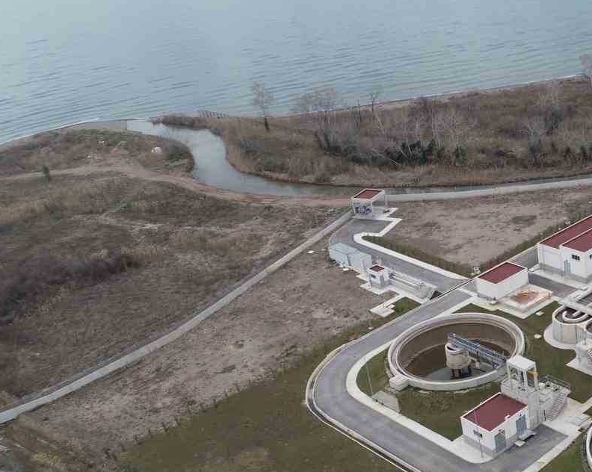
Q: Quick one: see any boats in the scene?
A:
No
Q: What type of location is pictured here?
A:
industrial area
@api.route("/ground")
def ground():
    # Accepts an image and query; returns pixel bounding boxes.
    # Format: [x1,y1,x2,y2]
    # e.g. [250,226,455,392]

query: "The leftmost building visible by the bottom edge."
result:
[461,393,537,457]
